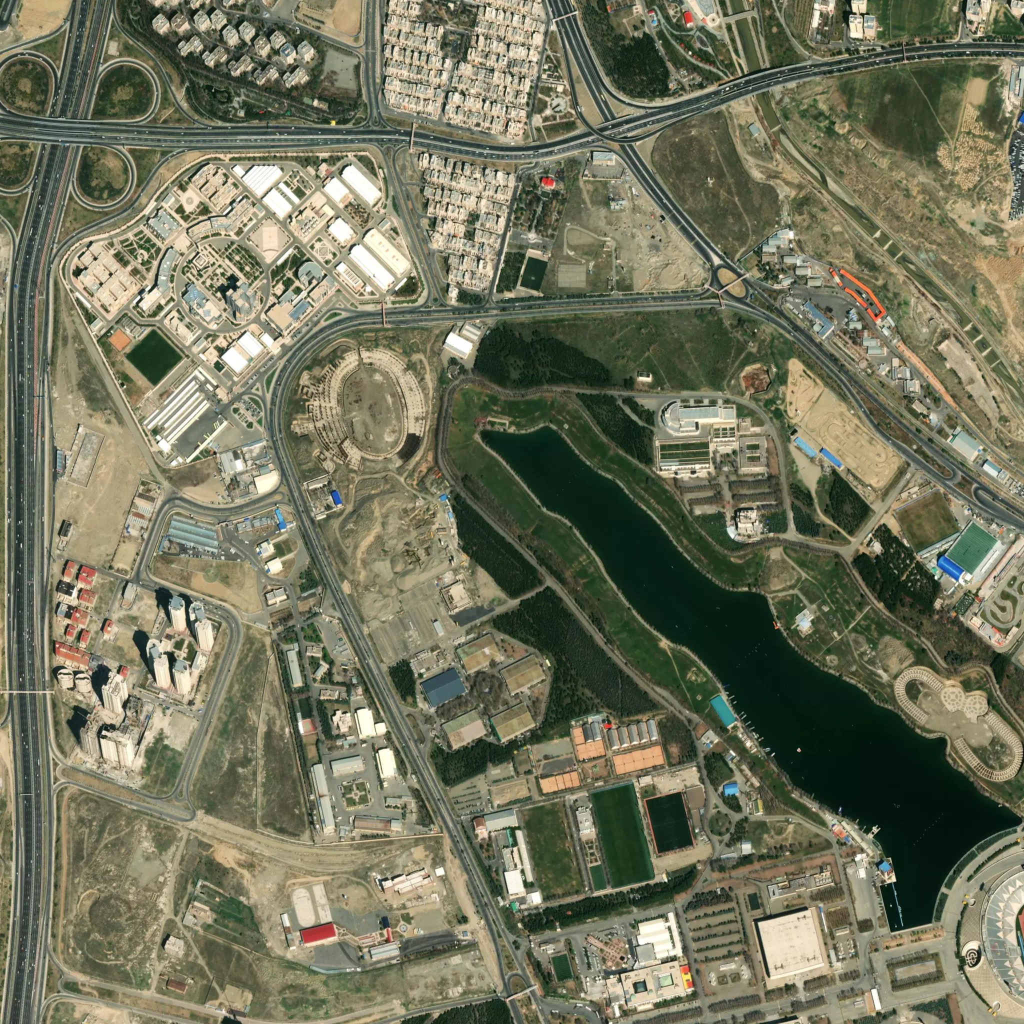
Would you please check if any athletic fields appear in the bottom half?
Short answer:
Yes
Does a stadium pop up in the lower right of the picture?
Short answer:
Yes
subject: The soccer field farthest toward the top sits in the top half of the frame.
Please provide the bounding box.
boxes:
[517,250,551,292]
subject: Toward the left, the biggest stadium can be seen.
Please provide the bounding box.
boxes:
[316,344,425,473]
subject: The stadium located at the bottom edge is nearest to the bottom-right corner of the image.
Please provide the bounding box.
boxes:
[980,863,1024,998]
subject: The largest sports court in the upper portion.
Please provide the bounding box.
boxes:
[558,265,586,287]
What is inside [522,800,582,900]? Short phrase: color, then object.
green sports field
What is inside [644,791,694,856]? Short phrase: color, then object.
black soccer field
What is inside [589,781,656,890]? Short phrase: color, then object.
green soccer field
